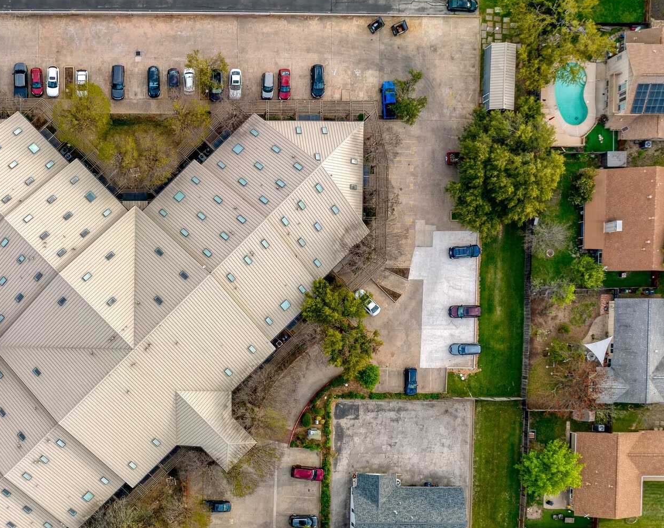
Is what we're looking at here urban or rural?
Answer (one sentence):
The area is urban.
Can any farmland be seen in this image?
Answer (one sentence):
No, there is no farmland in the image.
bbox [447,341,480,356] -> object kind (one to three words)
car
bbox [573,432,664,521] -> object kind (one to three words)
house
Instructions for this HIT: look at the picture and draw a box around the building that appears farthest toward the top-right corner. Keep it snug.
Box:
[605,24,664,138]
